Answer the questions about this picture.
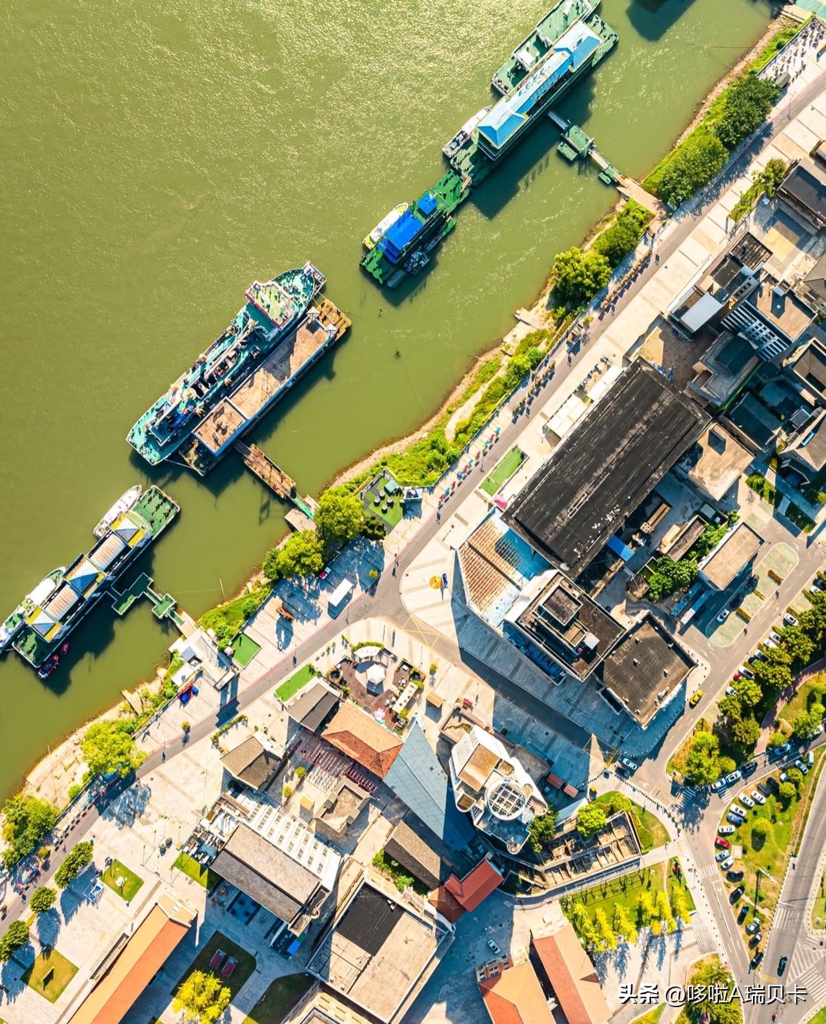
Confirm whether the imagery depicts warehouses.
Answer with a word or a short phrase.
Yes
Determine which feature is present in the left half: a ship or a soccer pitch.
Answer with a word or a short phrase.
ship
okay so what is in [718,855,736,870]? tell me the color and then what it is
white car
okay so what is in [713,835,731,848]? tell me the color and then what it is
red vehicle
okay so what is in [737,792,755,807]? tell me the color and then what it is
white car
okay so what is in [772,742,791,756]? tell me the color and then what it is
blue car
